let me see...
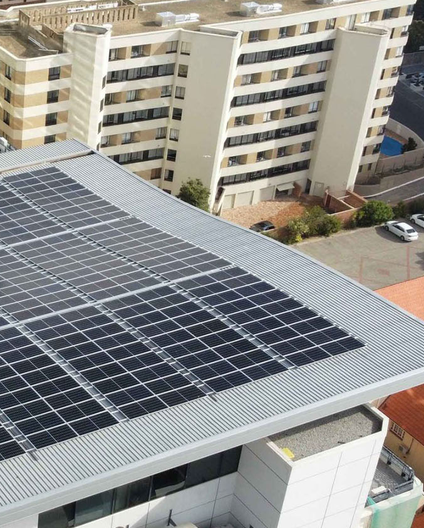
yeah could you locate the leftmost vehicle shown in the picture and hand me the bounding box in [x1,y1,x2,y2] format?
[249,217,277,233]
